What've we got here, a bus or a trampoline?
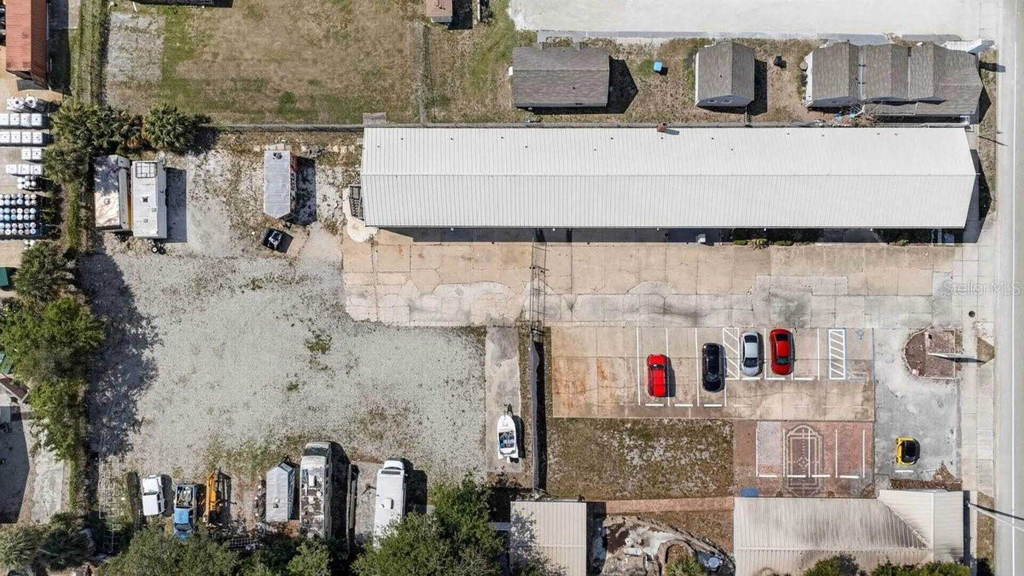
bus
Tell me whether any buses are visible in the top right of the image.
No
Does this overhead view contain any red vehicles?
Yes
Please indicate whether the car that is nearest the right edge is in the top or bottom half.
bottom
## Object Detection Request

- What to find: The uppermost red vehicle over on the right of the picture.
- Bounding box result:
[773,329,796,375]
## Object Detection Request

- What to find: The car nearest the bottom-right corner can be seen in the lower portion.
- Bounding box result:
[899,439,922,466]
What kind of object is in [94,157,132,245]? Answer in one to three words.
camper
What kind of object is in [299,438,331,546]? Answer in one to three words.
bus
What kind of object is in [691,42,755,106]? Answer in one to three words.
house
